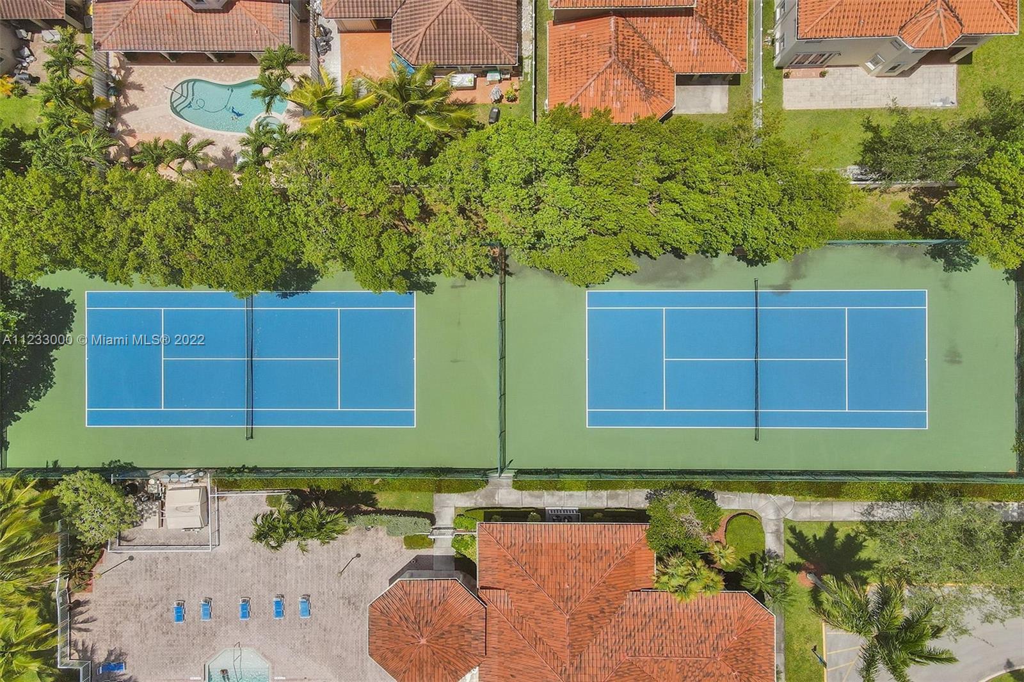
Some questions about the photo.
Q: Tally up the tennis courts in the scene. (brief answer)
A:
2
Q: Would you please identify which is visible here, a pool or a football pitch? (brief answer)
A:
pool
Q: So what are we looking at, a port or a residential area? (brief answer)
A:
residential area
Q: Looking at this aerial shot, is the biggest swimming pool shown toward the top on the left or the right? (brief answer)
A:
left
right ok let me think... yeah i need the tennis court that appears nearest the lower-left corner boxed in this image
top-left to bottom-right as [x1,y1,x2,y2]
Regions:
[6,246,501,471]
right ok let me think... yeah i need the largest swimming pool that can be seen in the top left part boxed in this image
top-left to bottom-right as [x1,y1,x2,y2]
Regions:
[167,74,293,136]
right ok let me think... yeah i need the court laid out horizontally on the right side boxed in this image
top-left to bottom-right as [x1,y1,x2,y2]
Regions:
[502,243,1017,474]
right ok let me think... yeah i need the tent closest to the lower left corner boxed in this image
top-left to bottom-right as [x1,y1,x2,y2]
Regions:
[156,488,206,531]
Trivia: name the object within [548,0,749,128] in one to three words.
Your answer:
house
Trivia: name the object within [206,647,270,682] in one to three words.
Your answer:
swimming pool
